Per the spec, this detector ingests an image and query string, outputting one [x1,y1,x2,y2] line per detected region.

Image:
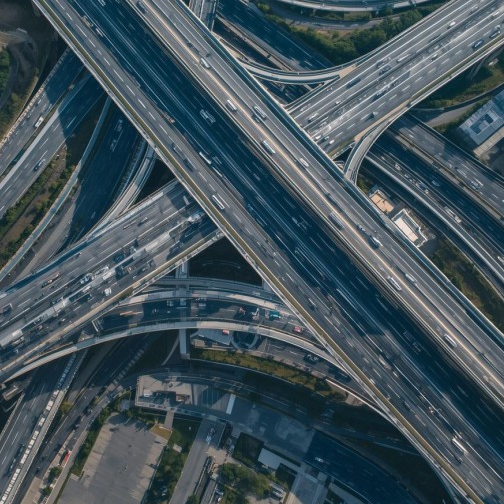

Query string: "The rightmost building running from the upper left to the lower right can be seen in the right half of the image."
[388,209,428,247]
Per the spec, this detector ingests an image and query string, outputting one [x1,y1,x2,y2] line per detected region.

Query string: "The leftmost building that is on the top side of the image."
[368,189,395,213]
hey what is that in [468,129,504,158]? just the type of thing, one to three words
shed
